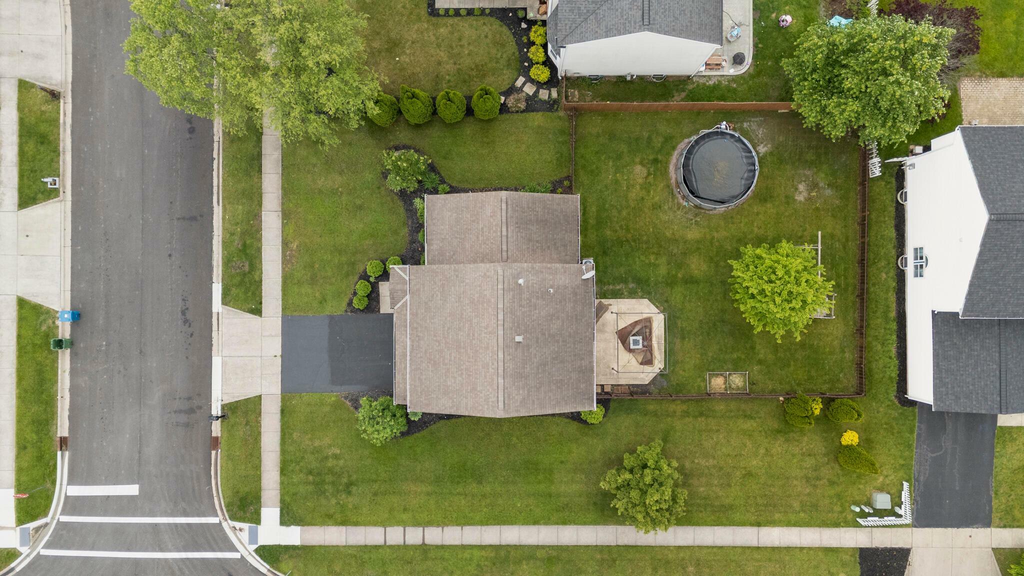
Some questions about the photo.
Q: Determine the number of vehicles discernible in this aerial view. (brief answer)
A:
0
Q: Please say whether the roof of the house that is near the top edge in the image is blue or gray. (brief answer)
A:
gray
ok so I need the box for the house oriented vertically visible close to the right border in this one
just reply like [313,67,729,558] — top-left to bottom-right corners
[899,123,1024,414]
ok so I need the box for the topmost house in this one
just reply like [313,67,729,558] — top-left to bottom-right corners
[547,0,724,83]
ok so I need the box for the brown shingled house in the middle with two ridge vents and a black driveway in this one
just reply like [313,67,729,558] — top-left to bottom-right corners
[388,189,597,419]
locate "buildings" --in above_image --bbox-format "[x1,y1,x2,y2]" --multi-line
[388,189,597,419]
[547,0,724,83]
[899,123,1024,414]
